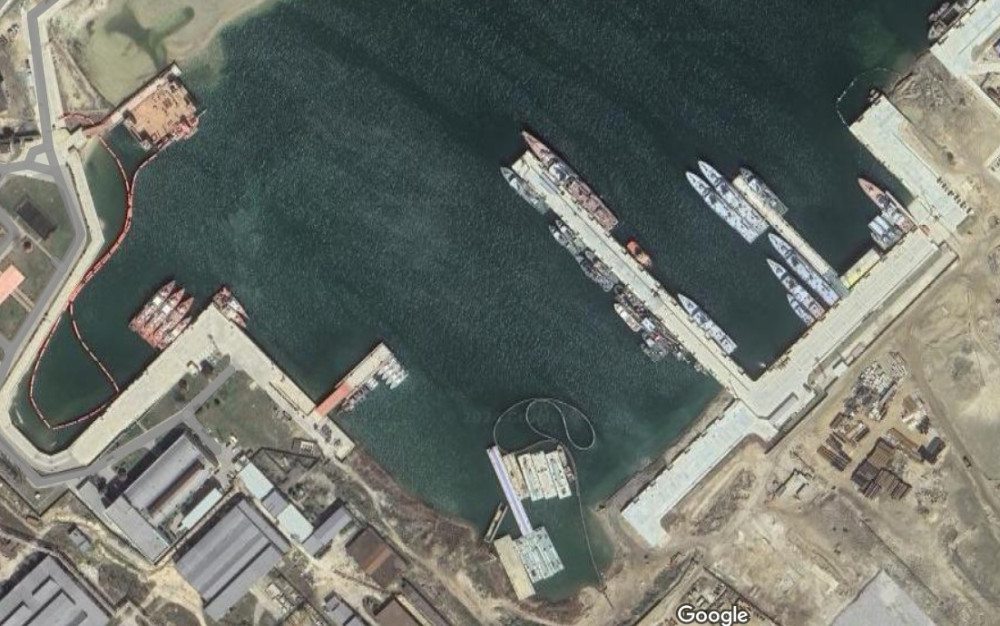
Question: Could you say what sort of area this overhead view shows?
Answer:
port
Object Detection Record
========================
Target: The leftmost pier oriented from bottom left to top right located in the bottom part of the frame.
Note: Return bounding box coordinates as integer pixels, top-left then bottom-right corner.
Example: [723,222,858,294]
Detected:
[315,344,392,417]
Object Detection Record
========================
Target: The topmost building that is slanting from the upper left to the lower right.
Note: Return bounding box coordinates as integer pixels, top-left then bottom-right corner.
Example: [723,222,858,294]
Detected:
[16,198,56,239]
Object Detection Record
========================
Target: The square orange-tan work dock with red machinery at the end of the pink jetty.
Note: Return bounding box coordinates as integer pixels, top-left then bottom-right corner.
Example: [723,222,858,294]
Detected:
[82,66,207,170]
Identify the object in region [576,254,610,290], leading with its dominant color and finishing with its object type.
gray boat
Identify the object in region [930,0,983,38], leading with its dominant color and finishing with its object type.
gray ship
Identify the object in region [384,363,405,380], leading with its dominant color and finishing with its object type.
white boat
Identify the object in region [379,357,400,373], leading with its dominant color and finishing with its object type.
white boat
